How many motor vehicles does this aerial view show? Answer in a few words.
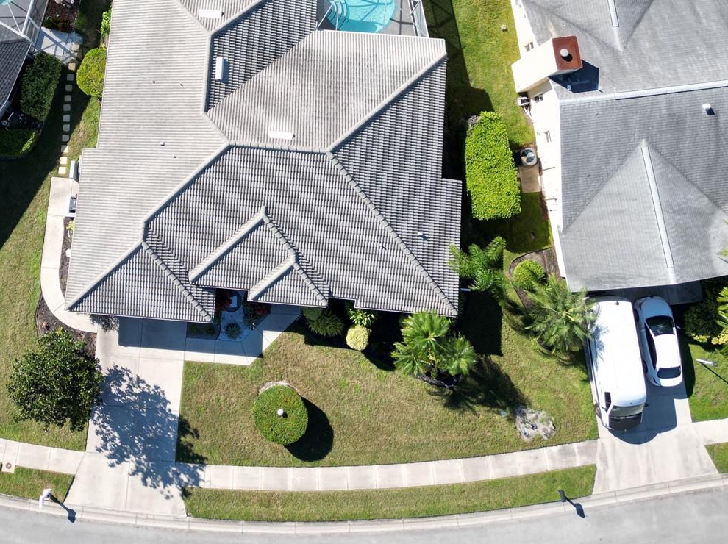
two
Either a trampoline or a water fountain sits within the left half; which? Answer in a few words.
water fountain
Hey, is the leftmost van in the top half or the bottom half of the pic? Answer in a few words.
bottom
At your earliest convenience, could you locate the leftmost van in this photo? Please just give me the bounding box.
[587,304,649,427]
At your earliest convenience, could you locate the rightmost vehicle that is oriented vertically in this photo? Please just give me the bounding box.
[635,296,686,390]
